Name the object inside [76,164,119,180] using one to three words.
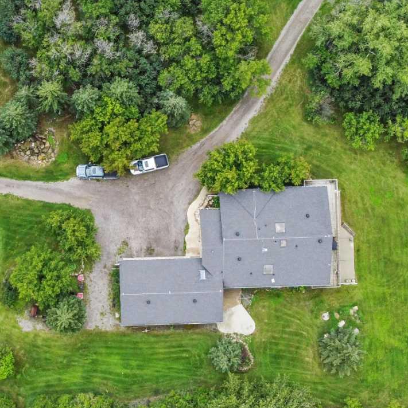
vehicle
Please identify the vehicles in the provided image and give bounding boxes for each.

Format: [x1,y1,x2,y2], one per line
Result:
[130,153,170,174]
[76,164,119,180]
